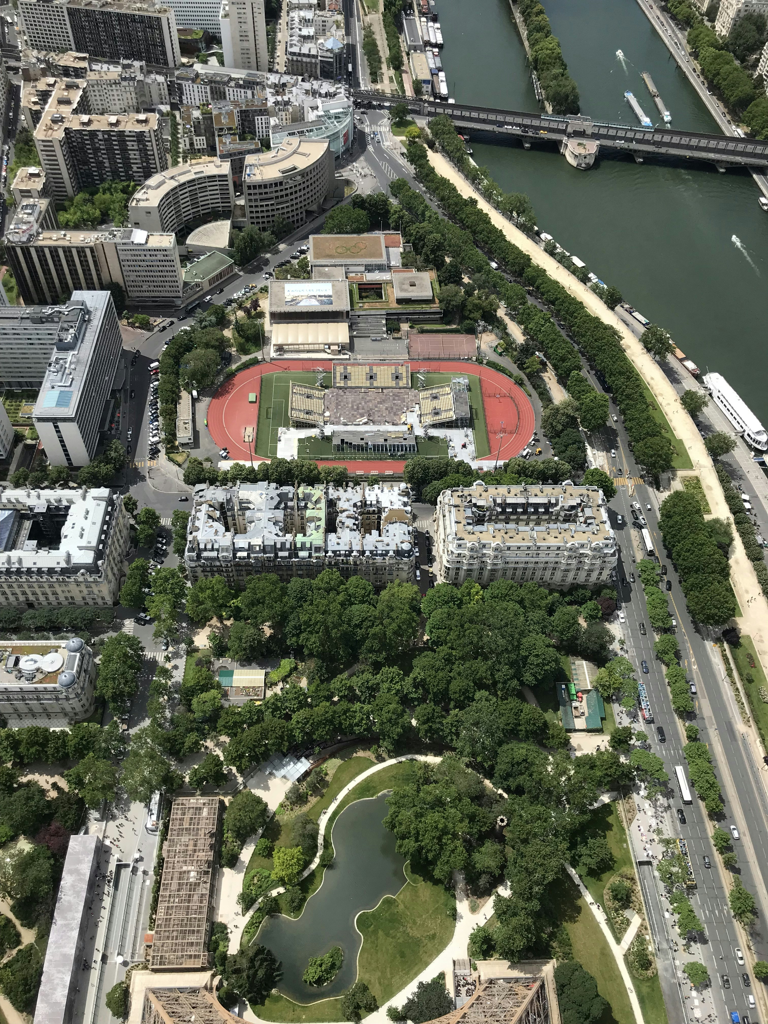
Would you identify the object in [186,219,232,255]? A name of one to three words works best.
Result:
building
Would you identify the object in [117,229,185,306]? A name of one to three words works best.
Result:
building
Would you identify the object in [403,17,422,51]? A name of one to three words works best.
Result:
shed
